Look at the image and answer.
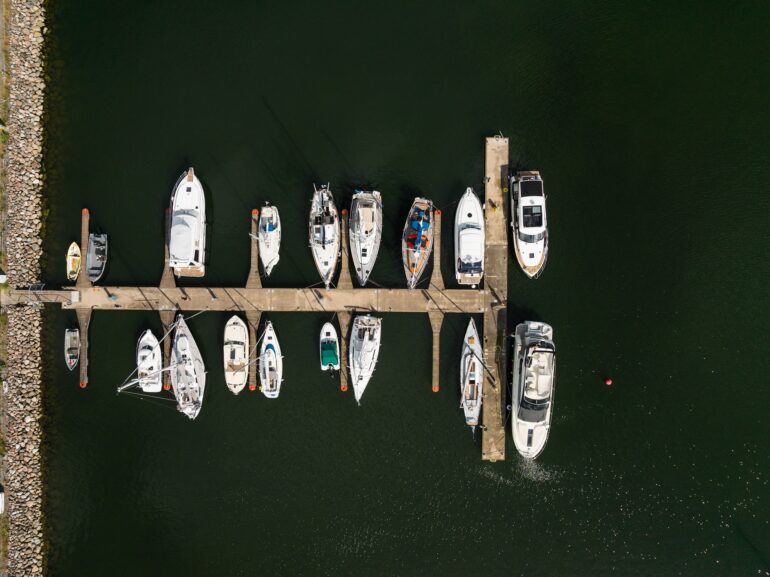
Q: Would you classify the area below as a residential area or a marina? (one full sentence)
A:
What you see here is a marina.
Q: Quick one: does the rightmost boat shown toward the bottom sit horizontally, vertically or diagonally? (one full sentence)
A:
Seen from above, the rightmost boat shown toward the bottom lies vertically.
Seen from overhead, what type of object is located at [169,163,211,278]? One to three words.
boat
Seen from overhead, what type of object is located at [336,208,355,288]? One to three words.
pier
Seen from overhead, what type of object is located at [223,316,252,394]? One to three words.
boat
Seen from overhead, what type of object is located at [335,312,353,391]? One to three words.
pier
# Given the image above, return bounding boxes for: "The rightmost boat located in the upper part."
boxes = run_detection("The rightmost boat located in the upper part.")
[506,171,550,280]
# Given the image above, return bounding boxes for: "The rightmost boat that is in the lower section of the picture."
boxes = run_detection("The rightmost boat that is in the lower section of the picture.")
[508,320,554,461]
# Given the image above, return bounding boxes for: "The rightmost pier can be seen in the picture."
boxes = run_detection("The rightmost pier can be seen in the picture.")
[482,131,509,463]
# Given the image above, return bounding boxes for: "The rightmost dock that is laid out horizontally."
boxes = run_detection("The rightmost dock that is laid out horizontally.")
[64,287,482,312]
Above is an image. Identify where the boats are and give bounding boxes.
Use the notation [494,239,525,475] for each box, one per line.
[461,317,497,437]
[347,190,384,287]
[115,315,209,418]
[346,314,383,408]
[239,321,286,398]
[453,186,487,284]
[303,182,344,289]
[506,171,550,280]
[223,316,252,394]
[169,163,211,278]
[320,322,341,373]
[86,228,109,282]
[508,320,554,461]
[65,242,80,283]
[64,325,80,370]
[400,198,436,289]
[247,203,283,276]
